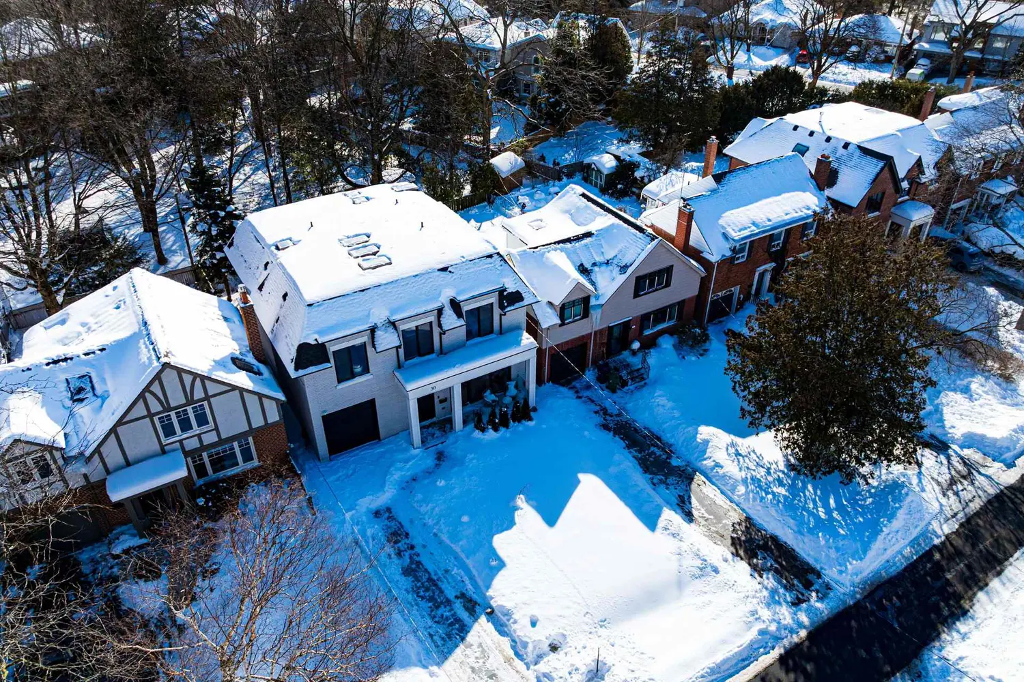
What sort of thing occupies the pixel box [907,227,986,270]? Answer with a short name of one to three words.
car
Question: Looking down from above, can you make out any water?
No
